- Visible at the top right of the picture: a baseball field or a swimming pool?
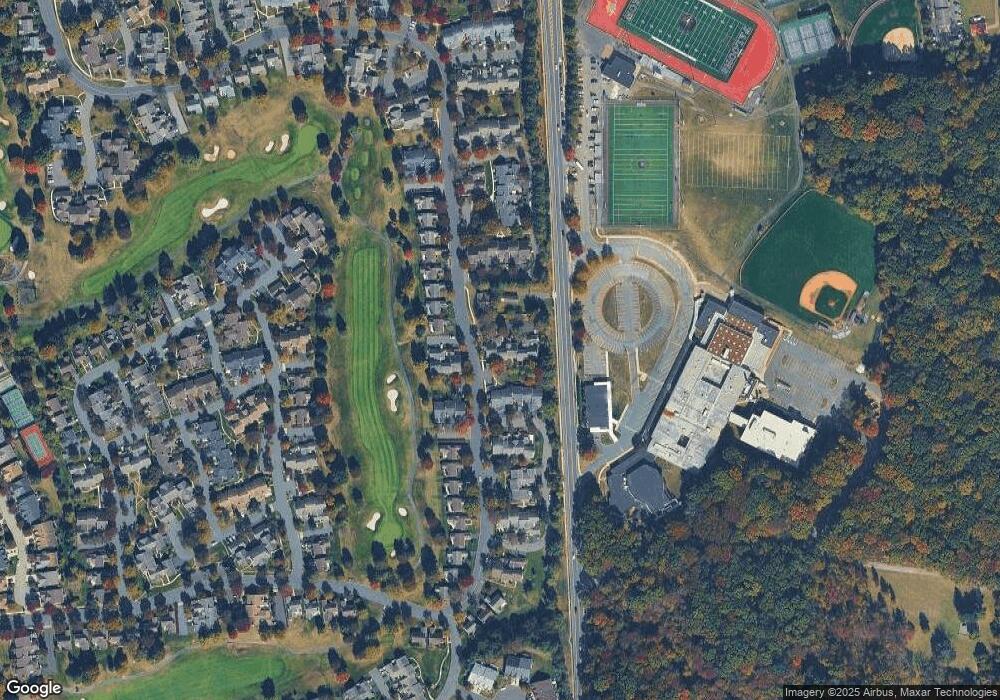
baseball field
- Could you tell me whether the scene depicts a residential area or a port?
residential area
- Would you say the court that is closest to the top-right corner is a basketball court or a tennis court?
tennis court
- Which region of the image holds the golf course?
left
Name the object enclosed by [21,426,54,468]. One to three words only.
tennis court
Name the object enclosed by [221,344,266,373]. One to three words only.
house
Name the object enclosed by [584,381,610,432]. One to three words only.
building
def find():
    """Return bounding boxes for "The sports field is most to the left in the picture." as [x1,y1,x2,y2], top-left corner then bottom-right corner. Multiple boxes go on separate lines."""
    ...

[603,99,679,229]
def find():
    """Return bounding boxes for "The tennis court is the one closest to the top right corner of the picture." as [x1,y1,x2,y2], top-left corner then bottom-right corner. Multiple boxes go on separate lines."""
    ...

[780,12,842,62]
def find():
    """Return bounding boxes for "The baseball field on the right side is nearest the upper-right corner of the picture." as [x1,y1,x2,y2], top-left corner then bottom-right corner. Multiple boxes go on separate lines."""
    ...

[848,0,921,72]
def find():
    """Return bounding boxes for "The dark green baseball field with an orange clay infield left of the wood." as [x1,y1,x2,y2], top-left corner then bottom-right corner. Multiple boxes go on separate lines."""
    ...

[737,190,876,330]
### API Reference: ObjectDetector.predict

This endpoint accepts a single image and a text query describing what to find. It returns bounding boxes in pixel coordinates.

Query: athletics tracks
[584,0,775,107]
